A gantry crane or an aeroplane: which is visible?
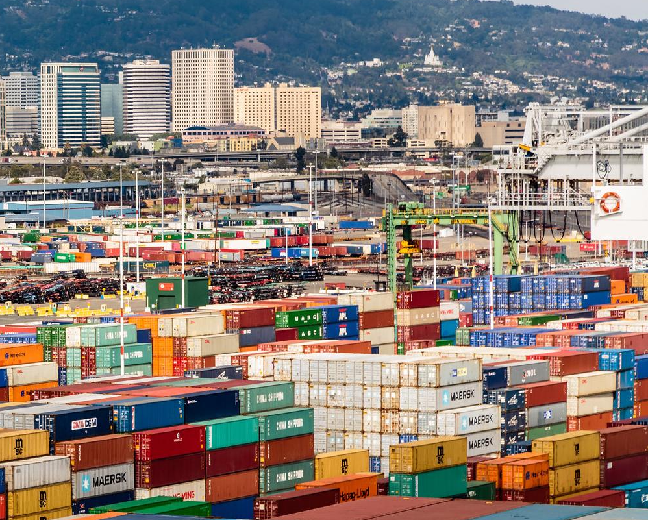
gantry crane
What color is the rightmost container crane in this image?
white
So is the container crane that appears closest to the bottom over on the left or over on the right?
right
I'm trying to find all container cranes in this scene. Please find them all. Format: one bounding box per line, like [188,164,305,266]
[378,193,523,335]
[481,101,648,242]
